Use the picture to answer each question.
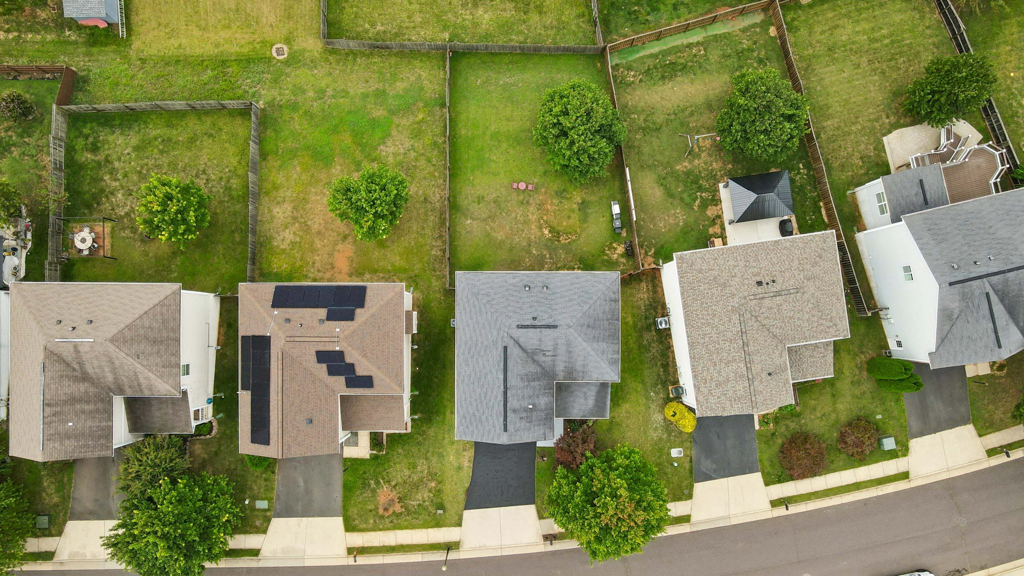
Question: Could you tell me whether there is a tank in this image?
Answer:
No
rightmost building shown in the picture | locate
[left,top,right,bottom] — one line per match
[853,162,1024,371]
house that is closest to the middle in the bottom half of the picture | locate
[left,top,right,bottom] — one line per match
[454,271,621,446]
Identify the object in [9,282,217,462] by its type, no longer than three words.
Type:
house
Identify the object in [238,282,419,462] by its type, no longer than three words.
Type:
house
